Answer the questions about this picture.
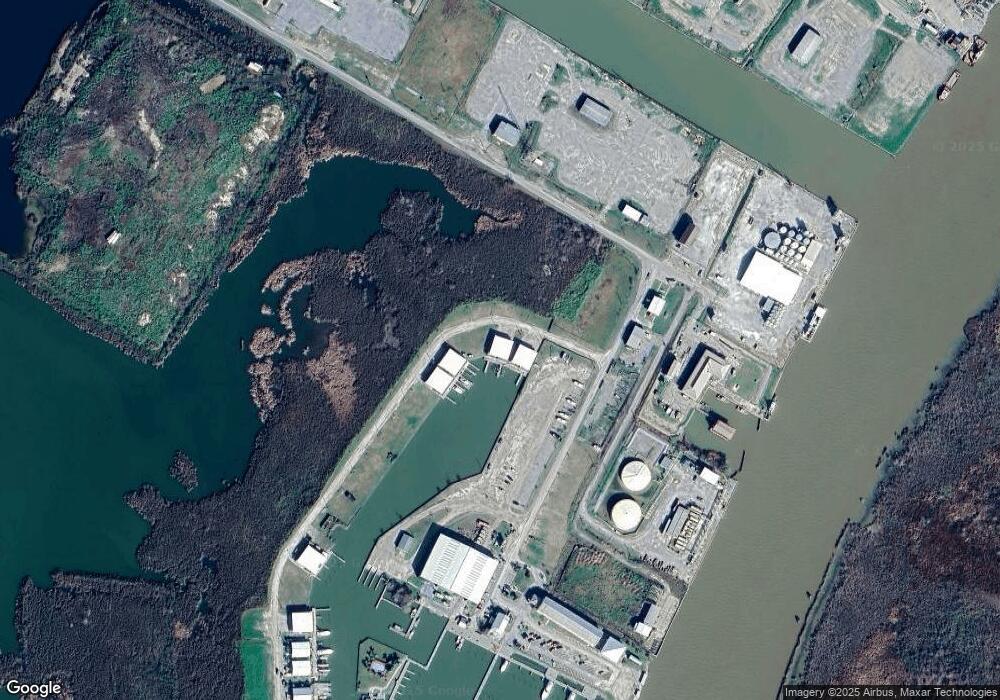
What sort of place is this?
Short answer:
port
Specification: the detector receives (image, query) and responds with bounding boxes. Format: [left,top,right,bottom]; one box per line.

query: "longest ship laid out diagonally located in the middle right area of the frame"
[799,302,830,344]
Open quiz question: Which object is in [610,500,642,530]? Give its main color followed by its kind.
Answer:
white storage tank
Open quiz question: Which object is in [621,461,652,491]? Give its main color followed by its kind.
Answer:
white storage tank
